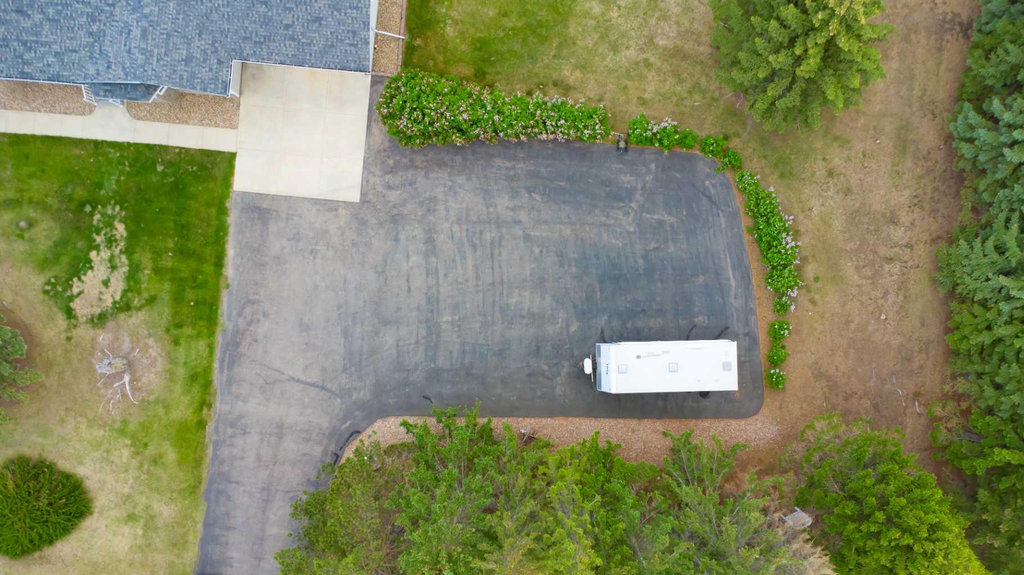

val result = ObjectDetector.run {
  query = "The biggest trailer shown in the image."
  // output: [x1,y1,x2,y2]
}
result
[574,337,738,394]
